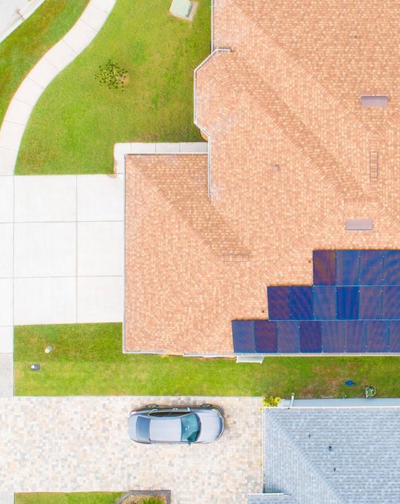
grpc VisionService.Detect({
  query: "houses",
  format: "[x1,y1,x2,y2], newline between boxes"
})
[122,0,400,357]
[247,392,400,504]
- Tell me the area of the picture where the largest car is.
bottom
